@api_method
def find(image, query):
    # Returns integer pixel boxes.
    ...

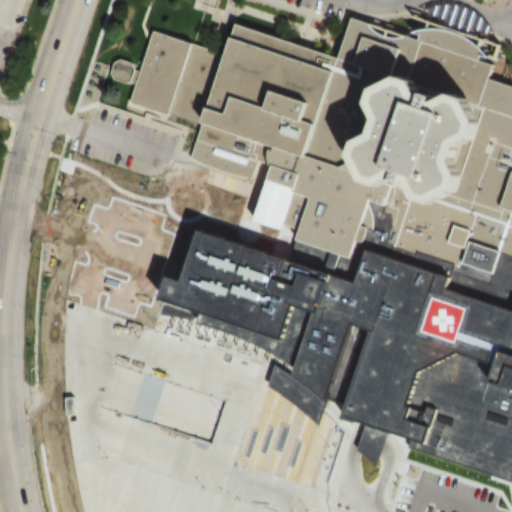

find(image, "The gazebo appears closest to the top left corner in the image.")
[115,59,140,84]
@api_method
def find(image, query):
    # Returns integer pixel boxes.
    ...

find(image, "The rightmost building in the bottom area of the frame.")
[157,230,512,482]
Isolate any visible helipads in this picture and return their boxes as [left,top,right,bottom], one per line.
[417,293,494,350]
